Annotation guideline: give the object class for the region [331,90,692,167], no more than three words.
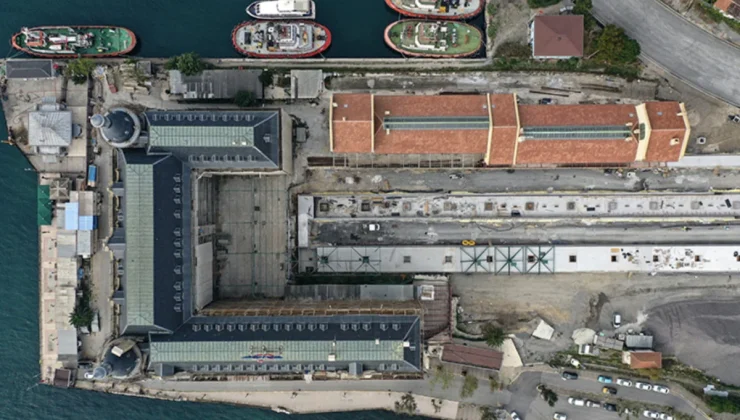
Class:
building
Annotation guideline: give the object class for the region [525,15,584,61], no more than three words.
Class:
house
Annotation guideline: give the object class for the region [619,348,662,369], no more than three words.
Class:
house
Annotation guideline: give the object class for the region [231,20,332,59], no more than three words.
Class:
boat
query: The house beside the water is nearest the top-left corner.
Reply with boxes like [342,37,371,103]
[7,60,59,81]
